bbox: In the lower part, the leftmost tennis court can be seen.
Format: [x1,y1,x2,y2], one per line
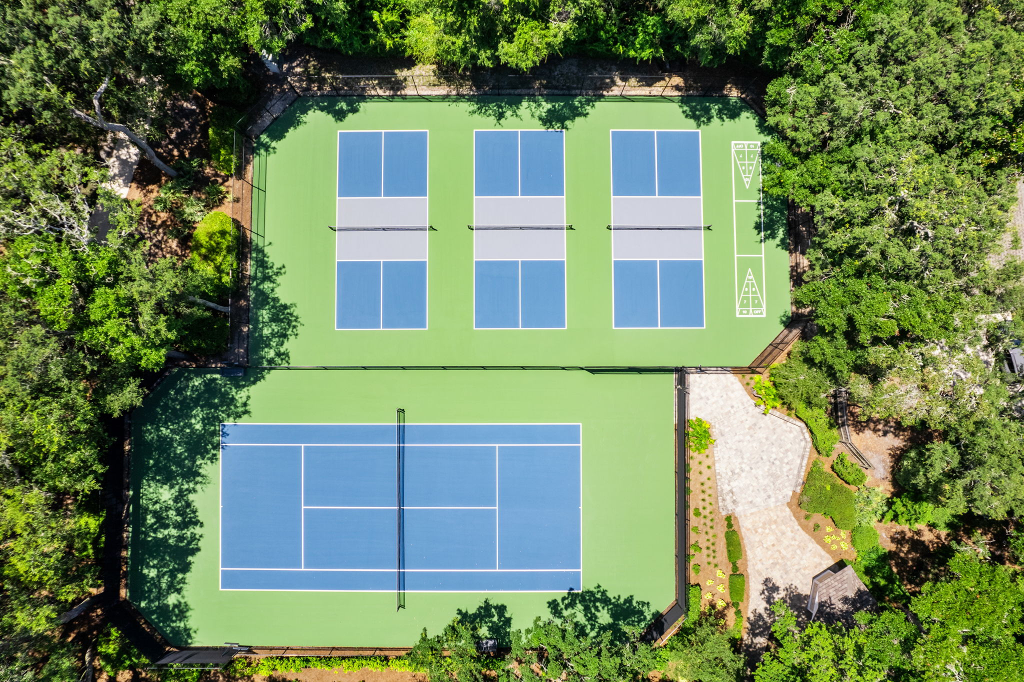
[127,369,676,648]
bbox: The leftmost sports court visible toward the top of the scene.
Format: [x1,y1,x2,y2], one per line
[336,130,428,330]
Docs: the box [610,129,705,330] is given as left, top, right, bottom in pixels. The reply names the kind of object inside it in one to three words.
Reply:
sports court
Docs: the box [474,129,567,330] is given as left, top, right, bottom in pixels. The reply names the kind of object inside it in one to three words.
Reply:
sports court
